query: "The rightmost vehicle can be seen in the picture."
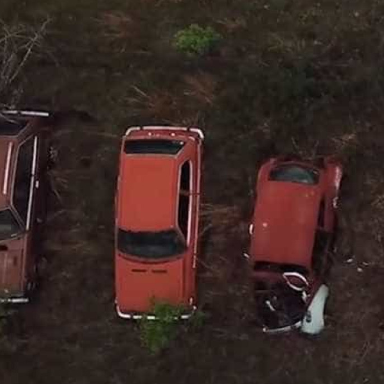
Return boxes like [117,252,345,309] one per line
[246,153,339,345]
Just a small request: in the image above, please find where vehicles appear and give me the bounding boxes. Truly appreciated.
[113,122,207,322]
[246,153,339,345]
[0,109,54,308]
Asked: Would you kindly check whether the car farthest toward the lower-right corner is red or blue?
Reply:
red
